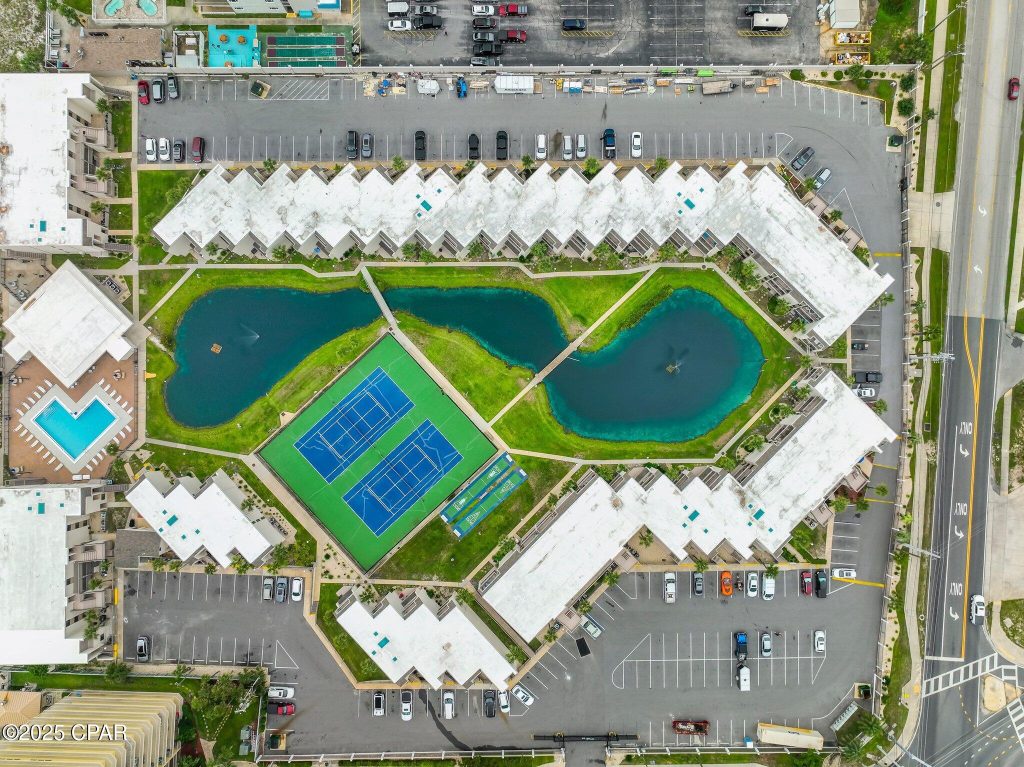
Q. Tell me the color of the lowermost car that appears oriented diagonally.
white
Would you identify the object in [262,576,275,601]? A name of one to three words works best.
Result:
vehicle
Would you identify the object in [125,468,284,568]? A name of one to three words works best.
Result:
building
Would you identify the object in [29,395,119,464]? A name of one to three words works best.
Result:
swimming pool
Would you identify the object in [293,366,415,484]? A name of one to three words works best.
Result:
tennis court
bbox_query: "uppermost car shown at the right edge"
[1006,77,1020,102]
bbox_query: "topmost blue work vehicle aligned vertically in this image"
[456,73,468,98]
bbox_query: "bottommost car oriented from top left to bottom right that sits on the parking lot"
[512,683,533,706]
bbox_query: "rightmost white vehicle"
[969,594,985,625]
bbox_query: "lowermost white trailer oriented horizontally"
[753,720,823,749]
